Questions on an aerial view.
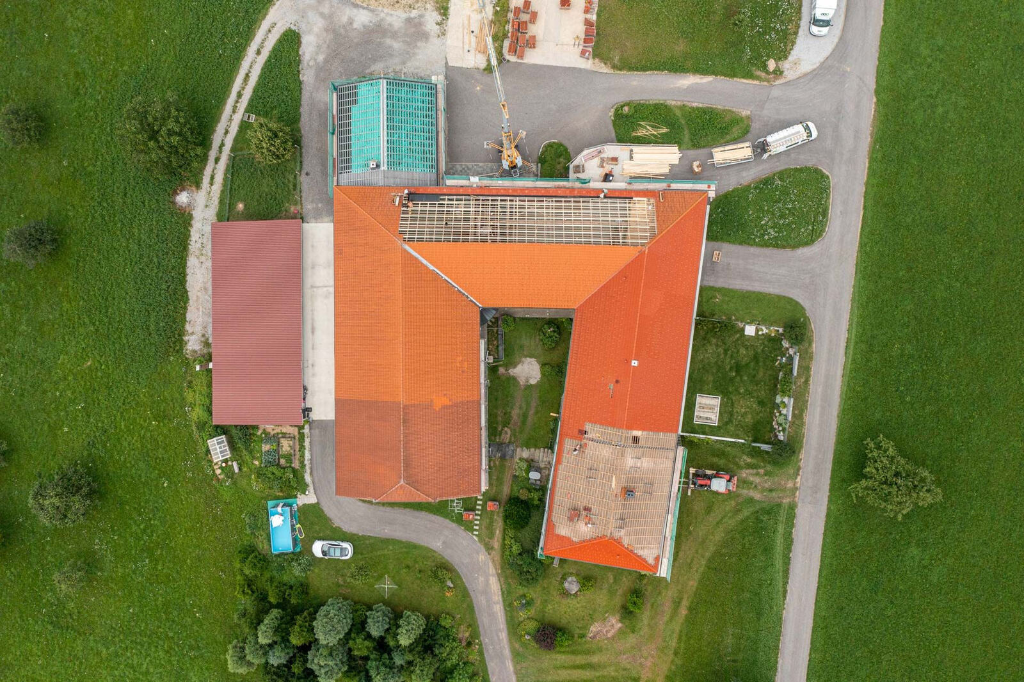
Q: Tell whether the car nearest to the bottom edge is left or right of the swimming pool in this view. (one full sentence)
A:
It is on the right side of the swimming pool that the car nearest to the bottom edge is positioned.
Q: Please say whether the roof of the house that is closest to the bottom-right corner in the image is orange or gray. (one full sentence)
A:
The roof of the house that is closest to the bottom-right corner looks orange in the image.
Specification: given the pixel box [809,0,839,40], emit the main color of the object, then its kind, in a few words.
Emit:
white van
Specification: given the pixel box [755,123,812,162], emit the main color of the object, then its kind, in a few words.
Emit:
white van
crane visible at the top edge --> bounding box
[478,0,537,178]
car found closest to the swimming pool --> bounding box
[313,540,353,561]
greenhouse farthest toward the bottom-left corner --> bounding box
[208,434,237,462]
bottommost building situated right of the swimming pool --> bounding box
[332,184,712,575]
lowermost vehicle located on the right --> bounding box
[695,471,736,493]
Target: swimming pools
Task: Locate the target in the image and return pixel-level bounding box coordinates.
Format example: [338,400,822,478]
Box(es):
[269,503,296,552]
